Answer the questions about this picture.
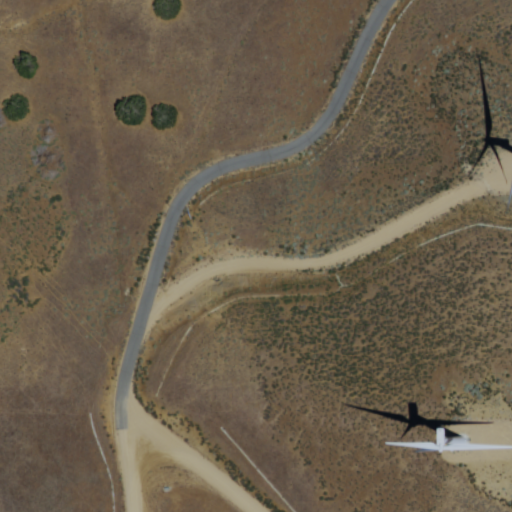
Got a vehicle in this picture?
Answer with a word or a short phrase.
No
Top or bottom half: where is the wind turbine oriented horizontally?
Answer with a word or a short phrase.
bottom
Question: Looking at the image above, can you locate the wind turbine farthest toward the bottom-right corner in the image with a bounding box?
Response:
[384,427,512,453]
